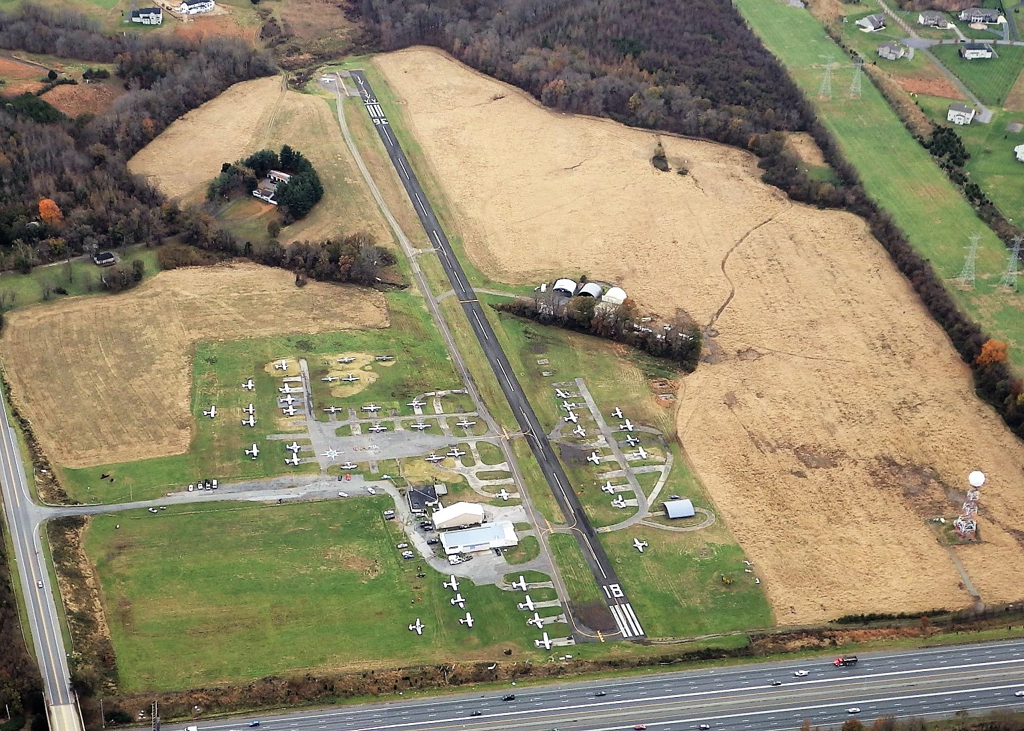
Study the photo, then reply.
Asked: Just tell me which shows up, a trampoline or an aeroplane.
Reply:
aeroplane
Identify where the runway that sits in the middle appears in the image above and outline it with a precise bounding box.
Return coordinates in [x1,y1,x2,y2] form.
[348,70,650,644]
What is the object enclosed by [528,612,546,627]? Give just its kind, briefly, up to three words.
airplane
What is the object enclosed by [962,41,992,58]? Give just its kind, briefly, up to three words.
house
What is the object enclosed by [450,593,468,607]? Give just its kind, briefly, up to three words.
airplane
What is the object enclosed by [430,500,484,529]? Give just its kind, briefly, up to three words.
hangar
